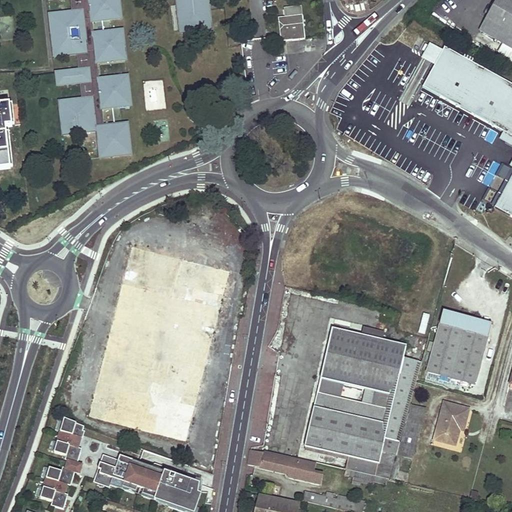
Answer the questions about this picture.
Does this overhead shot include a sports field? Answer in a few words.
Yes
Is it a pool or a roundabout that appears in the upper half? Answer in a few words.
roundabout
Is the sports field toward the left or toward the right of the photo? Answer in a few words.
left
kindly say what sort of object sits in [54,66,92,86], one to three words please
shed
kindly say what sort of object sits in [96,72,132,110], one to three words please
house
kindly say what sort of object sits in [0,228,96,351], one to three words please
roundabout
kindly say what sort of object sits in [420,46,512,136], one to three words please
building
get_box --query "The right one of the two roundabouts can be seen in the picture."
[191,82,360,244]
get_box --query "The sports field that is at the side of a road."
[88,246,230,441]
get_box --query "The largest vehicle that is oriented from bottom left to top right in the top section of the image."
[352,11,381,34]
